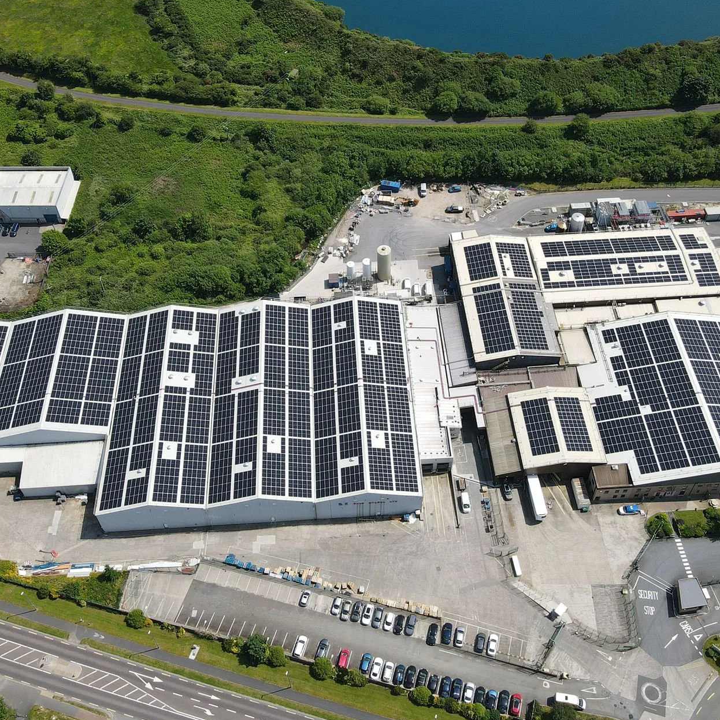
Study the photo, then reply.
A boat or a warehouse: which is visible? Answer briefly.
warehouse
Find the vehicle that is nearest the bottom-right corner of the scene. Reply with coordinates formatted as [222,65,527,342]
[556,690,586,708]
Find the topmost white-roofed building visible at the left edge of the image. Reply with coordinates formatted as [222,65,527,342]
[0,168,82,227]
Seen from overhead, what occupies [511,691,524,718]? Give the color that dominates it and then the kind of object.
red vehicle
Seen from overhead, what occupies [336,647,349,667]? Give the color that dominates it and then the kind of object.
red vehicle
